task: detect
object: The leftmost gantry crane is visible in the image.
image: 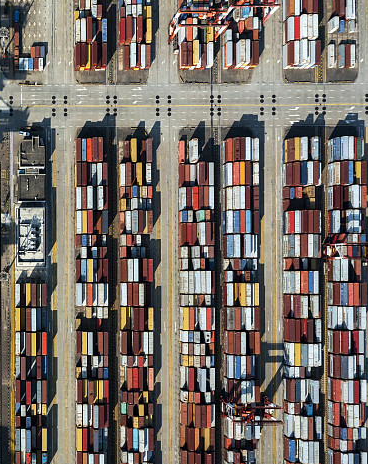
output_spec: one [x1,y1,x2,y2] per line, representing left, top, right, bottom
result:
[167,9,227,45]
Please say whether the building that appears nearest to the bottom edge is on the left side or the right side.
left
